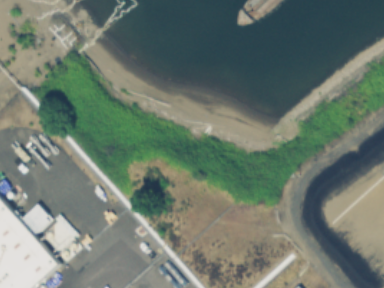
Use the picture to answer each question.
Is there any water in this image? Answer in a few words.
Yes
